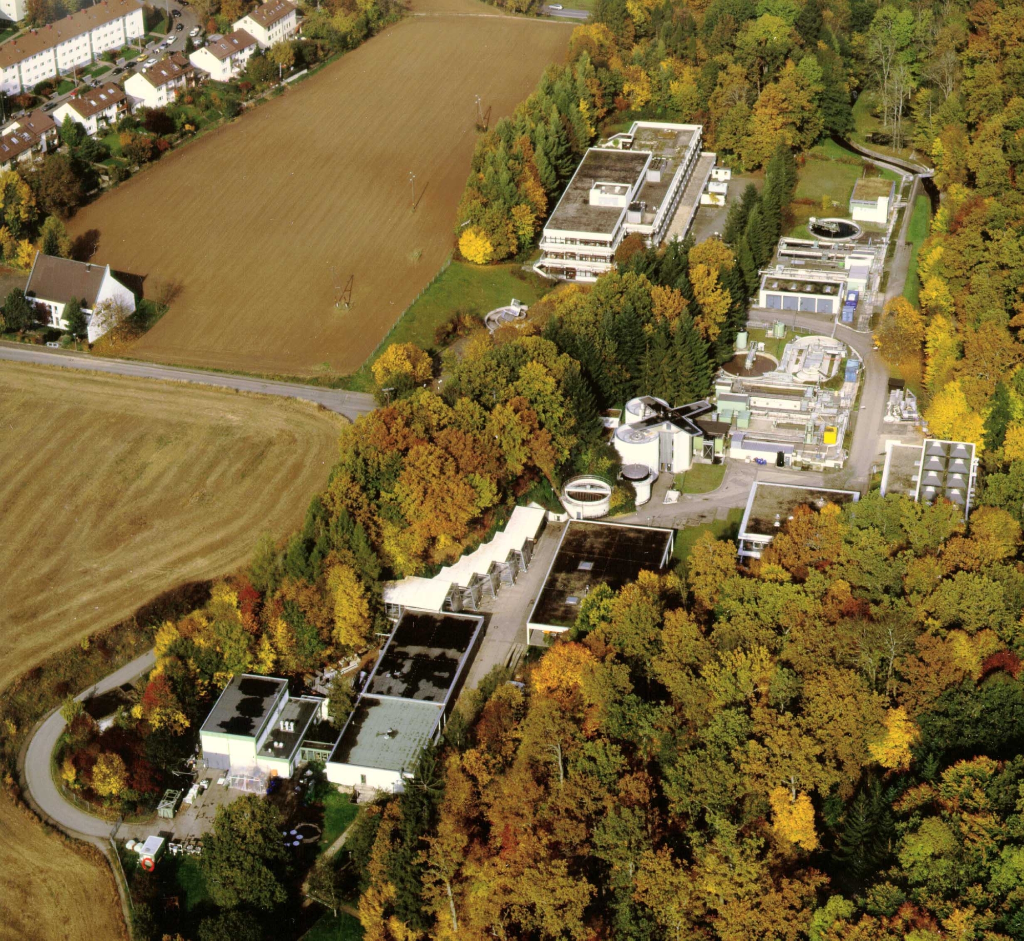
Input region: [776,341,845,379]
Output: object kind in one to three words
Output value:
storage tank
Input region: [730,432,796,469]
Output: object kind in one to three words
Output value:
shed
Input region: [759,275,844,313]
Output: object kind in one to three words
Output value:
building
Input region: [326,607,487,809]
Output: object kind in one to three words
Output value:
building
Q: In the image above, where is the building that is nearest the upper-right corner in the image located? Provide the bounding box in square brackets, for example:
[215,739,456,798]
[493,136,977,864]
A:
[849,178,899,222]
